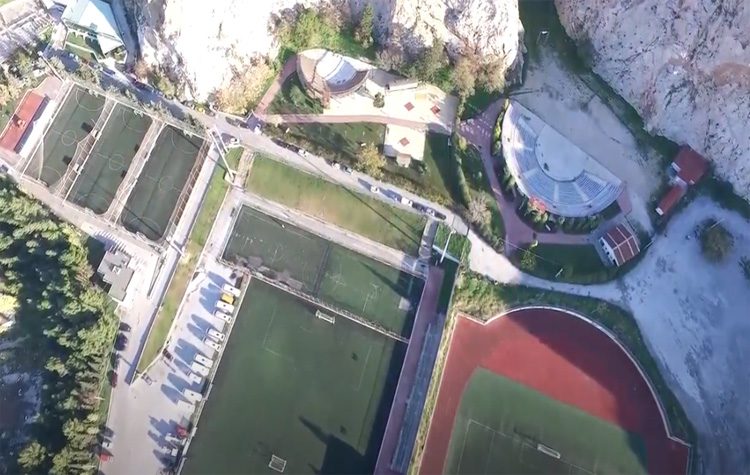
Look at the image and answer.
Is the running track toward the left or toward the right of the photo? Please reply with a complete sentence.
The running track sits on the right side.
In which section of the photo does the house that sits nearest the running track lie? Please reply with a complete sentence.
The house that sits nearest the running track appears toward the right of the photo.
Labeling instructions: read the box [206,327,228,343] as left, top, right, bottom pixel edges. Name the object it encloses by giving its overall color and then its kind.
white vehicle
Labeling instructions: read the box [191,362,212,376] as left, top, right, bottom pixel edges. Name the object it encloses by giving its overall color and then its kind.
white vehicle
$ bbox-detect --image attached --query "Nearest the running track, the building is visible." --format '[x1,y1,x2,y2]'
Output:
[605,225,645,269]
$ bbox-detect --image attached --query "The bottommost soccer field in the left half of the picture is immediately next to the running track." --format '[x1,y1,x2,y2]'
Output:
[179,277,406,475]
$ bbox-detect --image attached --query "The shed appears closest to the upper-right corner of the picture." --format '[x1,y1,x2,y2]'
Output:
[669,144,710,187]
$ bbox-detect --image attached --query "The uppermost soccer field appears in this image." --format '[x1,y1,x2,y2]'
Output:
[222,206,420,340]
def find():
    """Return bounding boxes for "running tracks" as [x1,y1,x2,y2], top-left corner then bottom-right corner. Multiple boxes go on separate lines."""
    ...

[420,307,689,475]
